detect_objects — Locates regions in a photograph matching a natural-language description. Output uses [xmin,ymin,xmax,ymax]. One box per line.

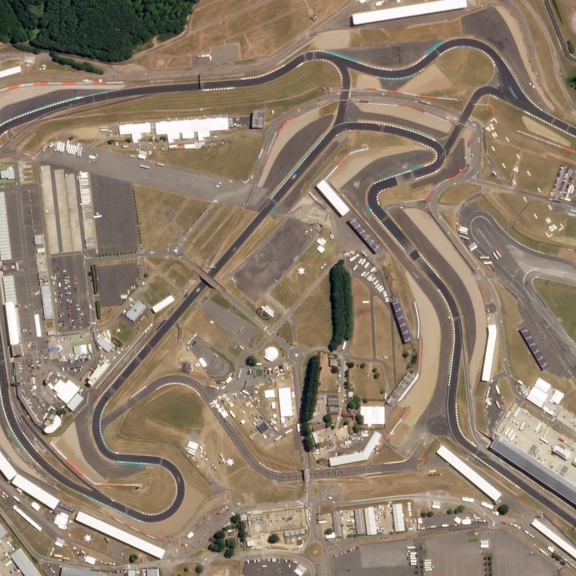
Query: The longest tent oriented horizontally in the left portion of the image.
[156,116,228,134]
